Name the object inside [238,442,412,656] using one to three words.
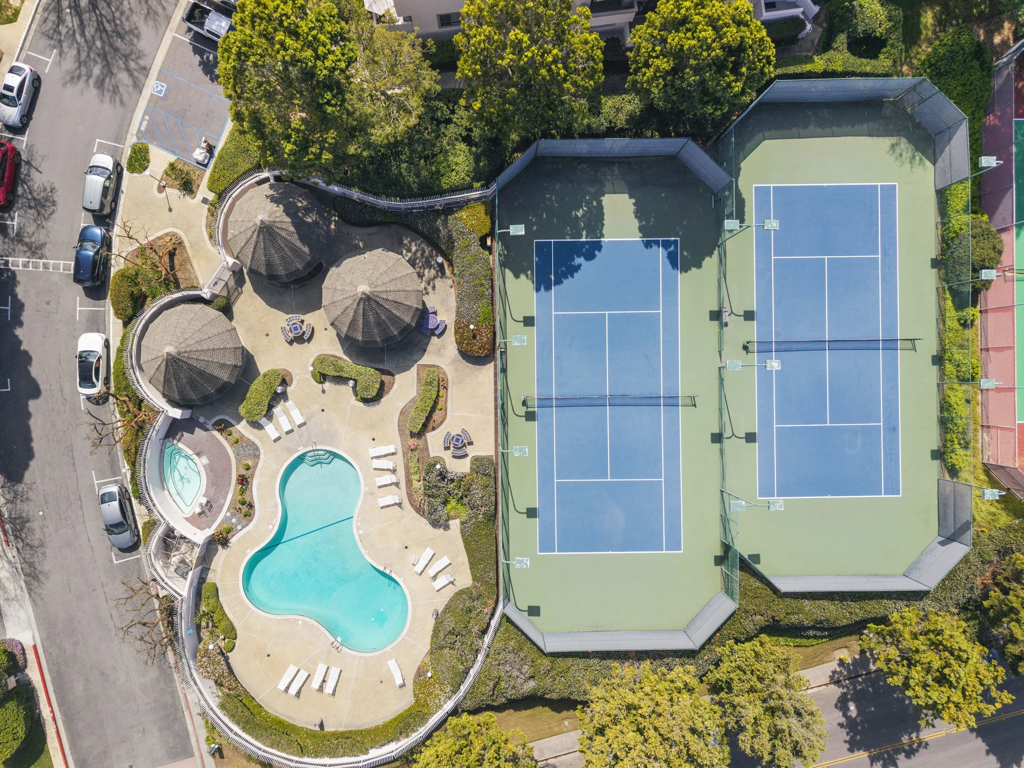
swimming pool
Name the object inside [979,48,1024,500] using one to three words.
tennis court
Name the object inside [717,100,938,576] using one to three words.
tennis court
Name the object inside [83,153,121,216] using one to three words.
car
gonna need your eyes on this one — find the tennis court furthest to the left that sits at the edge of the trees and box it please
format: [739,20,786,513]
[498,155,729,633]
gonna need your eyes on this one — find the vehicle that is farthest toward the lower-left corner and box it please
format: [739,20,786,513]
[98,481,138,549]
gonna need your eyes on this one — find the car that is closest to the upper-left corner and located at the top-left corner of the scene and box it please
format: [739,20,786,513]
[0,58,36,126]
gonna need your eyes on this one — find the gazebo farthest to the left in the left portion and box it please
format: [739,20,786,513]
[142,301,252,405]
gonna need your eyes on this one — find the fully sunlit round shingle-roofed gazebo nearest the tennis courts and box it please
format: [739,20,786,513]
[322,246,427,350]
